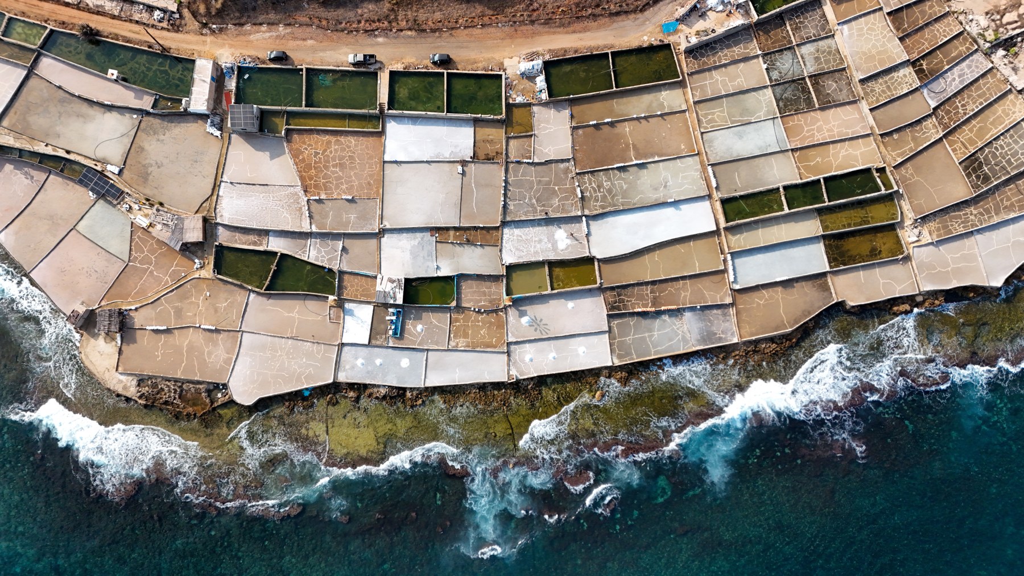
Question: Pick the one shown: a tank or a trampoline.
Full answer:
Visible in the photo is a tank.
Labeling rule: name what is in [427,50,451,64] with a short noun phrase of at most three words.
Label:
car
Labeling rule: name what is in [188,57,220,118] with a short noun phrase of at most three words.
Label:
building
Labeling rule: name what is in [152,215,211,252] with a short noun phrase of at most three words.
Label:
shed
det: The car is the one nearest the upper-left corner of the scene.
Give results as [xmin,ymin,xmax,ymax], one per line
[265,47,288,61]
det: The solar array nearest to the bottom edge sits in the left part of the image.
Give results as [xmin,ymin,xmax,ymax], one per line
[77,167,126,200]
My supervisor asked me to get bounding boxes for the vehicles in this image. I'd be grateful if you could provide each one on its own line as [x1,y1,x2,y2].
[346,50,378,65]
[427,50,451,64]
[265,47,288,61]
